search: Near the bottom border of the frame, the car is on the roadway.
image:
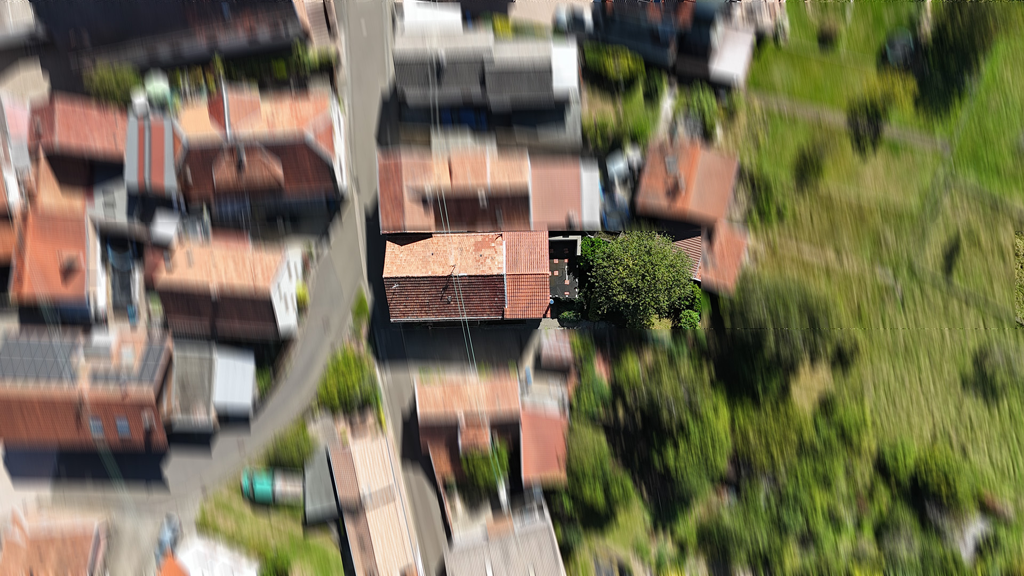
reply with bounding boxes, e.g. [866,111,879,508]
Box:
[156,507,191,556]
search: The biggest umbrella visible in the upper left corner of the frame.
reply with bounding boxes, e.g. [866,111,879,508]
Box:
[147,74,174,101]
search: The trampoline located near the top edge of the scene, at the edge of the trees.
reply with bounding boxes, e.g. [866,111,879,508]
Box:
[878,23,930,67]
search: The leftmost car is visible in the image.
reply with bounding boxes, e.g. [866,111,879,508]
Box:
[114,268,138,311]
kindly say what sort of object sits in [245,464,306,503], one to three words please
truck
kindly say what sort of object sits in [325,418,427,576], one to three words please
barn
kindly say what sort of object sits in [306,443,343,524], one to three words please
shed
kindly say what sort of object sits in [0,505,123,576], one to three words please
house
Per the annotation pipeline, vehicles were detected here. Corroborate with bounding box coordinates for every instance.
[156,507,191,556]
[550,0,575,41]
[575,0,591,42]
[245,464,306,503]
[114,268,138,311]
